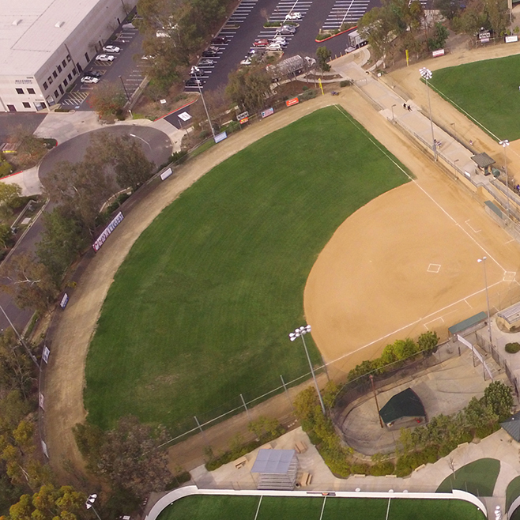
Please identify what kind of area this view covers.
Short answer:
sports ground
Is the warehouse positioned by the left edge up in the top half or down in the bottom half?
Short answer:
top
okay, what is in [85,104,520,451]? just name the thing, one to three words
baseball field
